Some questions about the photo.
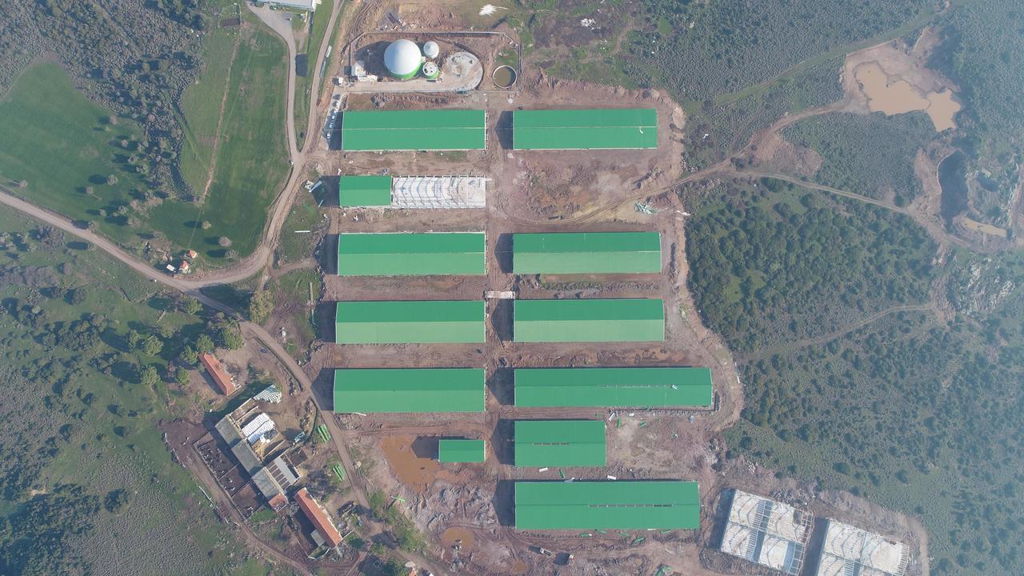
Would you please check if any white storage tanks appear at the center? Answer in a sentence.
No, looking at the center, there is no white storage tank.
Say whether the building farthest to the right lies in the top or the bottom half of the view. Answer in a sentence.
You can find the building farthest to the right in the bottom half.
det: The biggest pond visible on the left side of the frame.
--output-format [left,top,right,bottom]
[376,433,443,491]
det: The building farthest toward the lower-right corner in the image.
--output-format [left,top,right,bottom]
[814,519,914,576]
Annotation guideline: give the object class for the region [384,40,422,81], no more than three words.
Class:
storage tank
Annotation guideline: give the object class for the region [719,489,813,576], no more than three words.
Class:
building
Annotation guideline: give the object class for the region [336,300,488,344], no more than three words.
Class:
shed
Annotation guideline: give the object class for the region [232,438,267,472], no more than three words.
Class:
barn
